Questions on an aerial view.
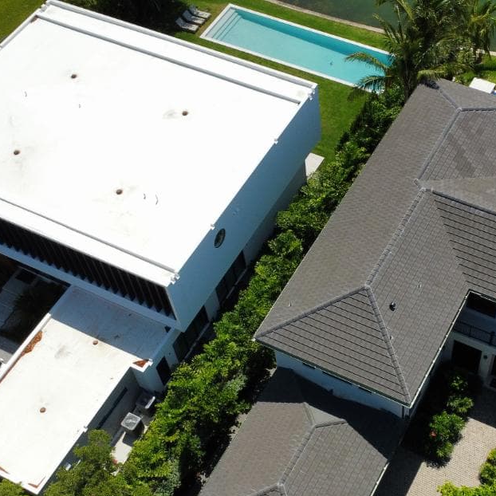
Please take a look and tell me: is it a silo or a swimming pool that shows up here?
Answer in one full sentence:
Looking from above, you can make out a swimming pool.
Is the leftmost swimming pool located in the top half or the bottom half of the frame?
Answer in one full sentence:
You can find the leftmost swimming pool in the top half.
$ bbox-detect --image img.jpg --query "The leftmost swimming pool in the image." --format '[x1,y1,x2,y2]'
[206,7,388,89]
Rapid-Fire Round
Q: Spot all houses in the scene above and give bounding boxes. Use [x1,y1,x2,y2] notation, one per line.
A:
[254,73,496,444]
[0,0,320,351]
